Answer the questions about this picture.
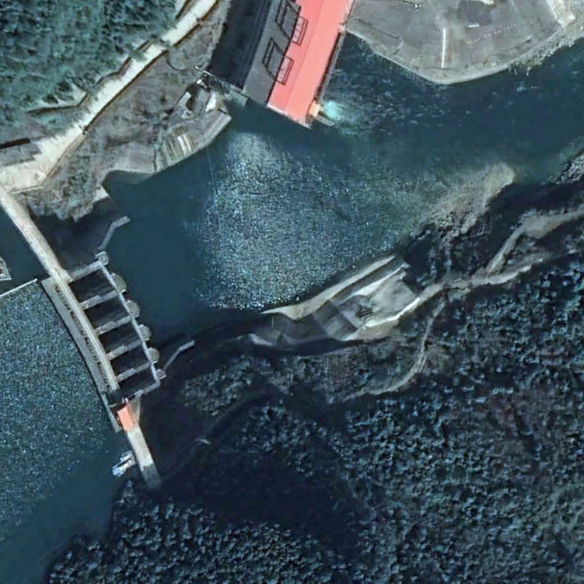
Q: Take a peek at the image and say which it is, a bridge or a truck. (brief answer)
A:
bridge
